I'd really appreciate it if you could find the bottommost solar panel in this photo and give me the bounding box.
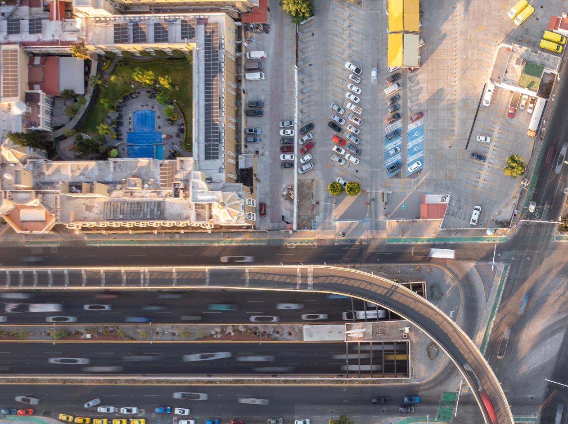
[159,162,174,187]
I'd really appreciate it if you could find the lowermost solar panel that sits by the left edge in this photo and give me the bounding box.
[1,49,17,96]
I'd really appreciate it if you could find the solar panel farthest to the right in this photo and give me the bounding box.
[204,23,219,160]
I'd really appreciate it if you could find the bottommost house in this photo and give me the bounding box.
[304,324,346,341]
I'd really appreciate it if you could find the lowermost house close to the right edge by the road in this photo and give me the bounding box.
[490,44,560,97]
